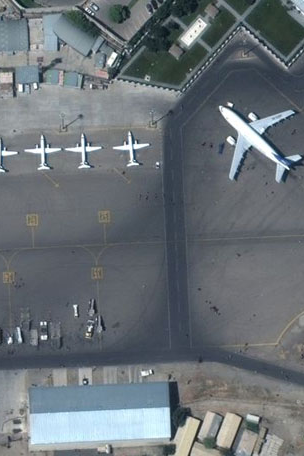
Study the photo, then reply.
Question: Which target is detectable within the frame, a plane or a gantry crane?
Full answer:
It is a plane that can be seen here.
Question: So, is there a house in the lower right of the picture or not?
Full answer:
Yes, a house can be seen in the lower right of the picture.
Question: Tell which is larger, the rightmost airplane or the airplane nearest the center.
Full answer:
The rightmost airplane takes up more space than the airplane nearest the center does.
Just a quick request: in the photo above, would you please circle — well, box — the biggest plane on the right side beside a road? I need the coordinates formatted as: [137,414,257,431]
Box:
[219,108,303,181]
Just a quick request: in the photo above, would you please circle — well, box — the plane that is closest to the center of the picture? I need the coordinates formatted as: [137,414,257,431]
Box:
[113,133,150,164]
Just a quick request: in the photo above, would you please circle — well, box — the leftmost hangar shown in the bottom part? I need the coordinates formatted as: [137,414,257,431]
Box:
[30,383,171,449]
